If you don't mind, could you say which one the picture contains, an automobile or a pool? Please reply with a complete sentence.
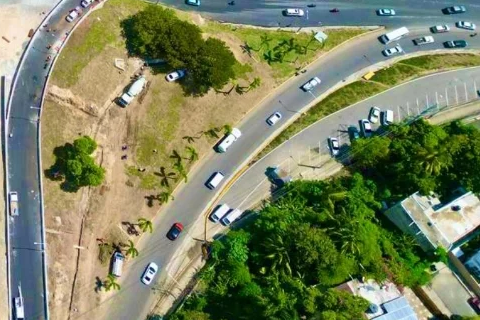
The image shows an automobile.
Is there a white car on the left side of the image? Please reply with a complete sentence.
Yes, there is a white car on the left side of the image.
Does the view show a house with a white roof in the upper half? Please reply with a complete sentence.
No, no house with a white roof can be made out in the upper half.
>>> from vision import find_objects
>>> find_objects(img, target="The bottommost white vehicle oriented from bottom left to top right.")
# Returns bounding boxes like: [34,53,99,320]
[140,261,160,286]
